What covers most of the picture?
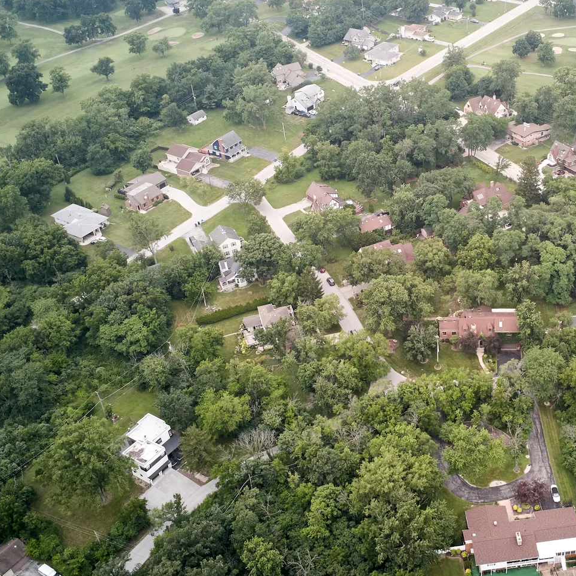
trees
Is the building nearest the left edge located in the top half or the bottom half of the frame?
bottom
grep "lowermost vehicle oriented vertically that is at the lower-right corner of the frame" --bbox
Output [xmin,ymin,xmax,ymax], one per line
[549,482,561,503]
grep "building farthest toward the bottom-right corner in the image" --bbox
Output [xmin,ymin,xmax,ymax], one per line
[462,500,576,576]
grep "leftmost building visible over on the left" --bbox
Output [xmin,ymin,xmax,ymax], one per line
[0,540,34,576]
